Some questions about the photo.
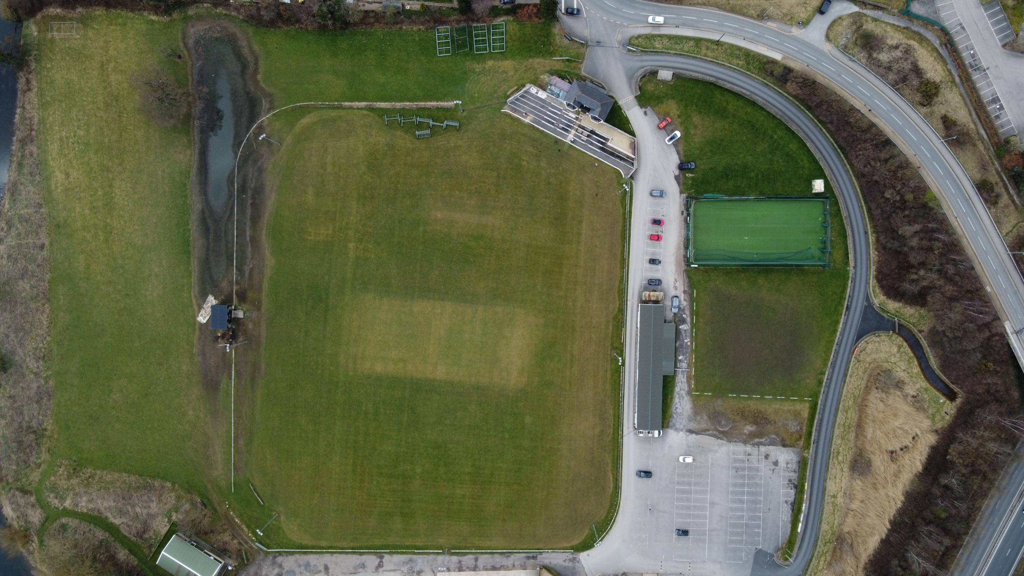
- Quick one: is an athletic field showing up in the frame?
Yes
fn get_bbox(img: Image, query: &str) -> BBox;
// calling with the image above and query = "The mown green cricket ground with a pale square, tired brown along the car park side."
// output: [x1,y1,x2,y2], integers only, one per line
[252,110,622,548]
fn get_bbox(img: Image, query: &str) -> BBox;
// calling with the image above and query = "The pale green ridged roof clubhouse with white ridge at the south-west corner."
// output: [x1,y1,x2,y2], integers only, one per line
[156,530,225,576]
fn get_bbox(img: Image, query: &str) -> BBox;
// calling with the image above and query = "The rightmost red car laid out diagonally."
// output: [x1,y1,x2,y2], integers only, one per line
[656,117,671,131]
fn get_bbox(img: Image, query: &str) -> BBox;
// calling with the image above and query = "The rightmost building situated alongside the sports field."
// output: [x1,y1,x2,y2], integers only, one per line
[634,304,675,430]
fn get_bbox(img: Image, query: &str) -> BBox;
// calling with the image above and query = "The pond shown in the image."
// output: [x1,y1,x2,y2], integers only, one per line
[205,56,238,216]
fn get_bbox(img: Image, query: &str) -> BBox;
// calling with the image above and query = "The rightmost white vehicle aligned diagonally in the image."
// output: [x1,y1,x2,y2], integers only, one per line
[665,131,681,145]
